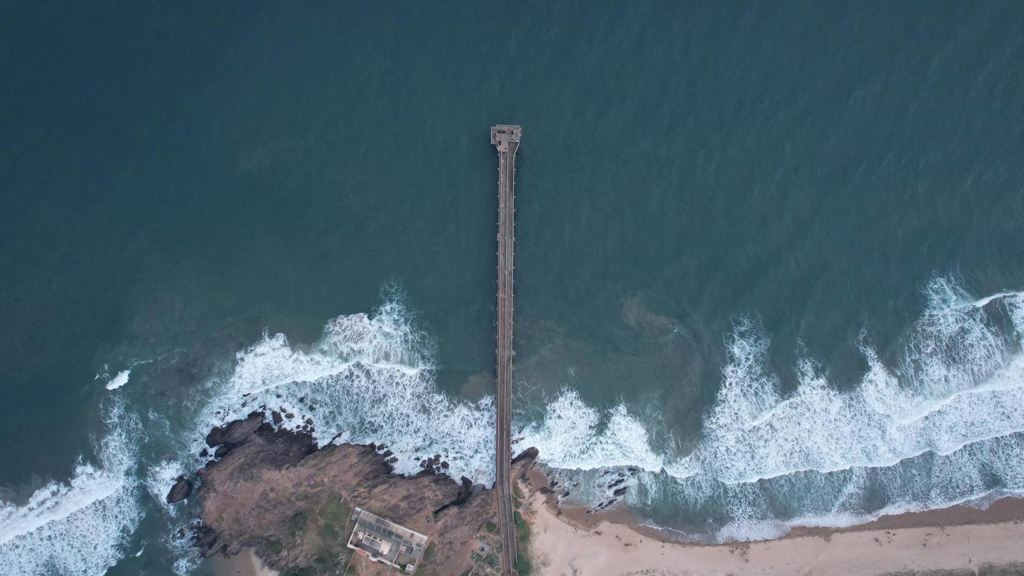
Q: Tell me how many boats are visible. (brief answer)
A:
none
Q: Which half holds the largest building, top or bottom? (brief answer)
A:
bottom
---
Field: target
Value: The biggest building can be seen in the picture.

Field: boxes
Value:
[347,509,428,572]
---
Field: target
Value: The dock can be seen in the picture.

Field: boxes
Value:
[491,125,522,576]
